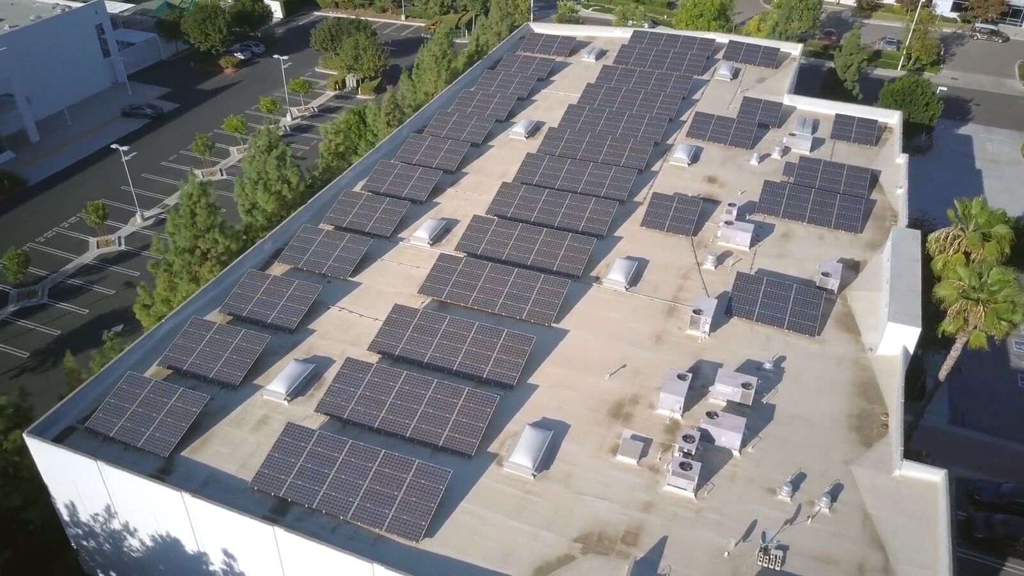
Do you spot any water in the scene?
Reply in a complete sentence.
No, no water is visible.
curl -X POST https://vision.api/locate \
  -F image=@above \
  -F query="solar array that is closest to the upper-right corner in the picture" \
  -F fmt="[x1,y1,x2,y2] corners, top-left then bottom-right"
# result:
[830,114,878,148]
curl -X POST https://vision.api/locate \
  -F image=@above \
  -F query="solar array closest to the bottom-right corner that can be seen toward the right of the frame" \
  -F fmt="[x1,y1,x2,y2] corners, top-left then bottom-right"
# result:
[727,270,825,335]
